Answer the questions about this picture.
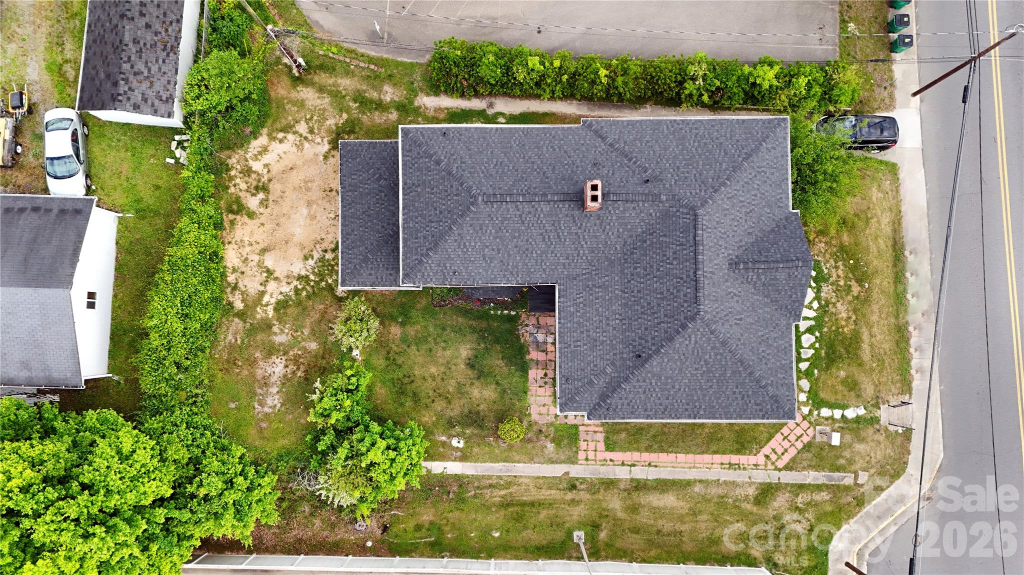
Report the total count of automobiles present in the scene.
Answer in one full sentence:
I count 2 automobiles.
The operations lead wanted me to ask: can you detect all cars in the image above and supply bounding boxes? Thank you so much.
[811,113,901,158]
[41,110,93,194]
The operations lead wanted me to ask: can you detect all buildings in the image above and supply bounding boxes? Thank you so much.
[0,194,131,390]
[75,0,199,126]
[337,115,809,423]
